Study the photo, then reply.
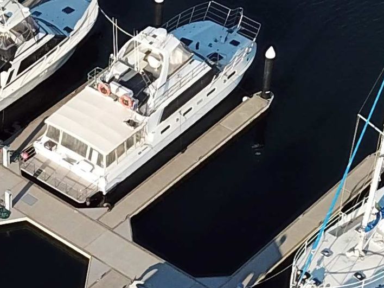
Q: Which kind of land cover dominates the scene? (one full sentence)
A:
The scene is dominated by water.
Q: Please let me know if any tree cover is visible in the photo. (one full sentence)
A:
No, the picture contains no tree cover.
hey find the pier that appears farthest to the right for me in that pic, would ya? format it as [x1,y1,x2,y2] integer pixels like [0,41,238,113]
[192,148,384,288]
